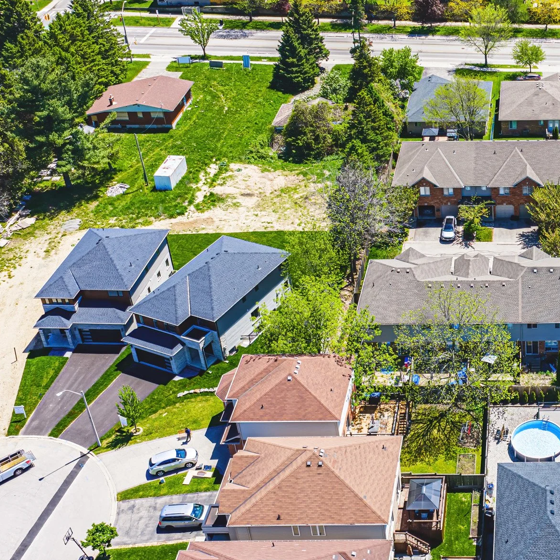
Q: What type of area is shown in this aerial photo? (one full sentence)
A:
It's a residential area.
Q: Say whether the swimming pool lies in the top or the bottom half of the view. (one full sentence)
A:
Seen from above, the swimming pool lies in the bottom half of the view.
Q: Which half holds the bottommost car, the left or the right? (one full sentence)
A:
The bottommost car is on the left side of the image.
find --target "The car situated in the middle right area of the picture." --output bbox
[439,211,456,239]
